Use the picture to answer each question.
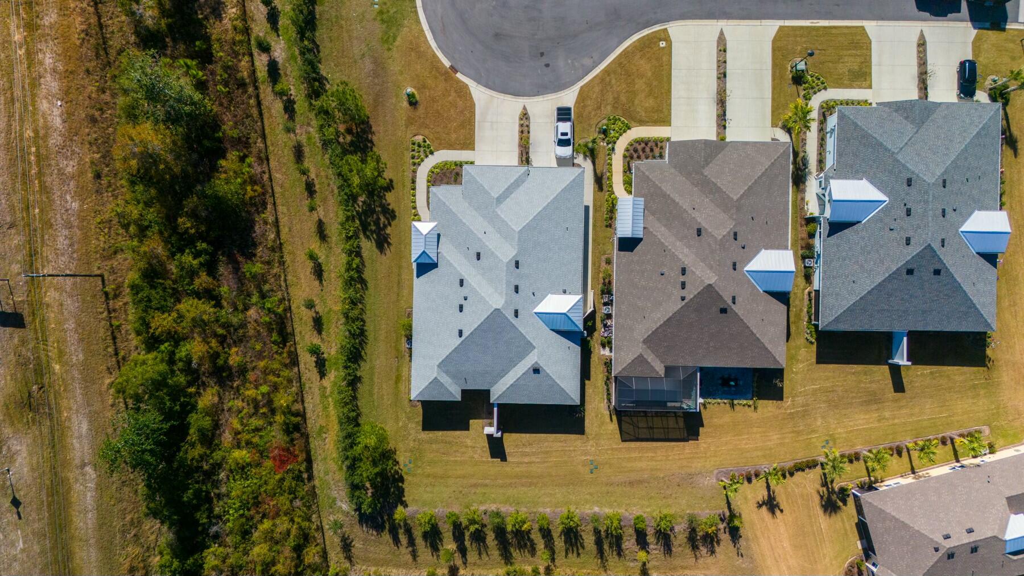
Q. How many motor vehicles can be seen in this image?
2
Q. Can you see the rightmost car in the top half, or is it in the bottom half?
top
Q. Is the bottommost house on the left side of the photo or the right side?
right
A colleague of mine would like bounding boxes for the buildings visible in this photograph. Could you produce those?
[811,99,1013,333]
[612,138,796,378]
[410,163,585,407]
[851,439,1024,576]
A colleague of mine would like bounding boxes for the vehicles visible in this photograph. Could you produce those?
[954,59,978,101]
[553,106,575,160]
